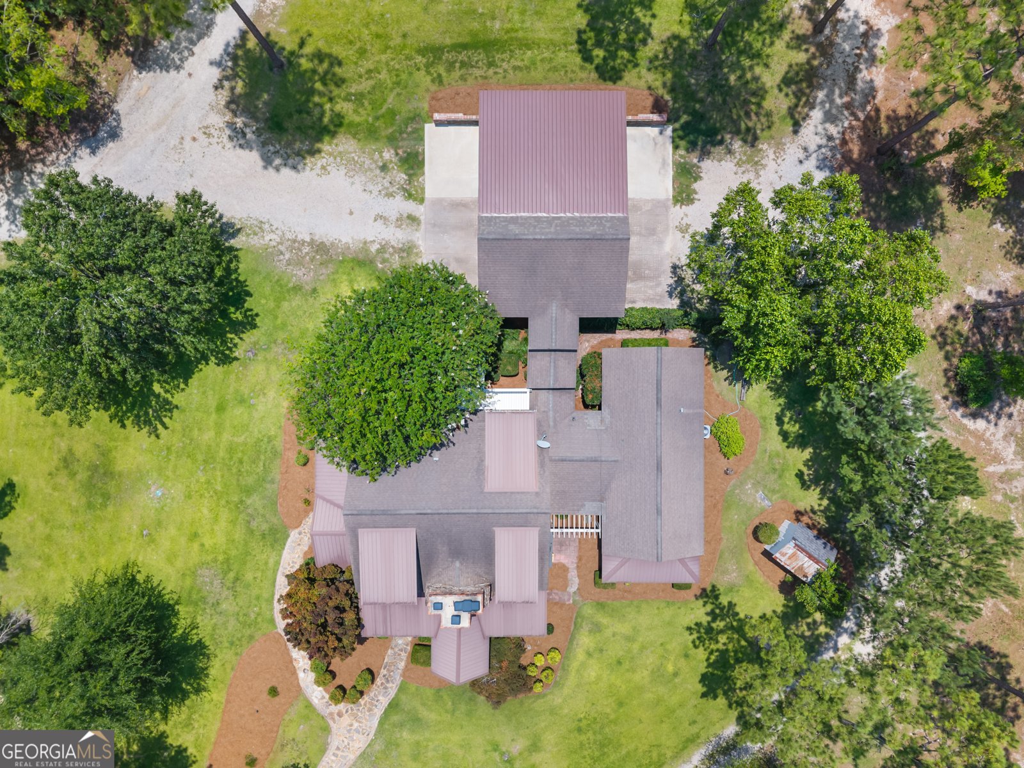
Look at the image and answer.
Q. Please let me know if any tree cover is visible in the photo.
Yes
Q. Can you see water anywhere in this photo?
No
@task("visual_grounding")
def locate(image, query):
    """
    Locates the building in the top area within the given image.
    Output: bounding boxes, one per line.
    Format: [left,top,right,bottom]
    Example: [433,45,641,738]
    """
[477,90,631,317]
